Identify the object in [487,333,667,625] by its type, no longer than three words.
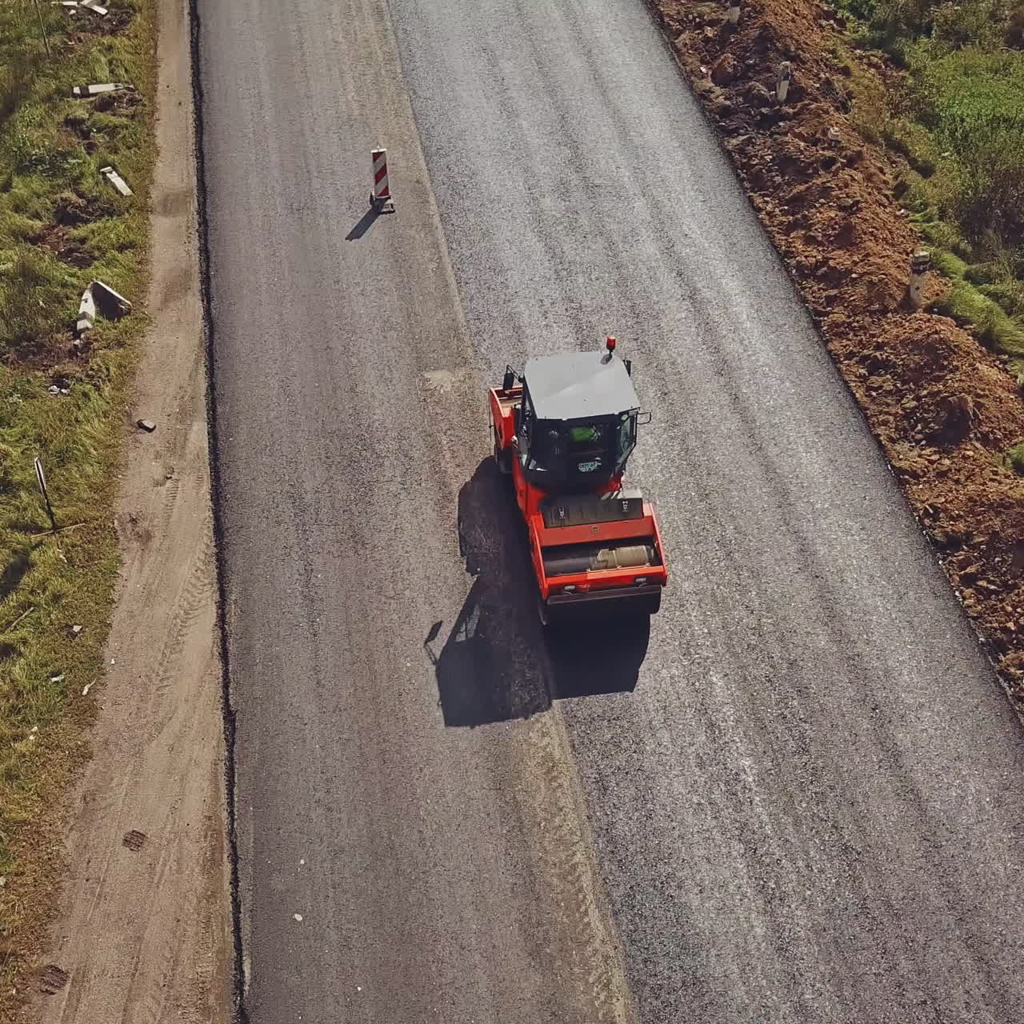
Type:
work vehicle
